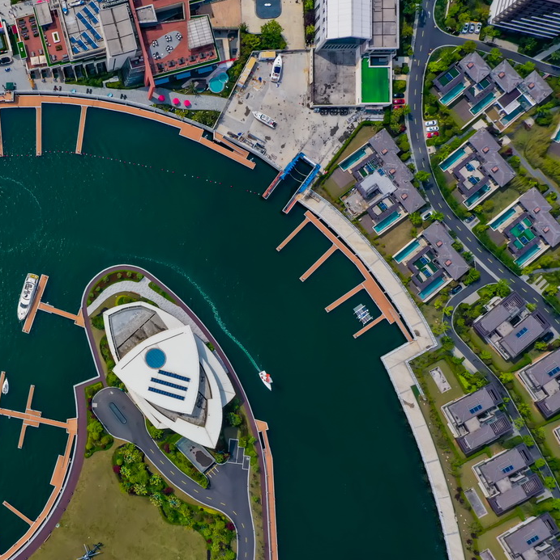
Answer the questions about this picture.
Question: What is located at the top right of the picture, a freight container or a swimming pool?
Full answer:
Visible at the top right of the picture is a swimming pool.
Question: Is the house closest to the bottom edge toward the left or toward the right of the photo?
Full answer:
The house closest to the bottom edge sits on the right side.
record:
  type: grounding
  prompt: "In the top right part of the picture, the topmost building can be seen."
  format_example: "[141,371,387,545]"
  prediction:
[487,0,560,37]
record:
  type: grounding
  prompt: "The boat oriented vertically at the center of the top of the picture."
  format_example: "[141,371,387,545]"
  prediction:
[271,53,283,82]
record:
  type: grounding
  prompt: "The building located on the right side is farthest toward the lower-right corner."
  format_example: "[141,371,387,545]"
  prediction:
[494,511,560,560]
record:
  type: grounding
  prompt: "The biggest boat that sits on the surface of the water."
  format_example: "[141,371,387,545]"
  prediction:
[18,271,39,320]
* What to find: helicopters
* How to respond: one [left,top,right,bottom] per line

[78,543,103,560]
